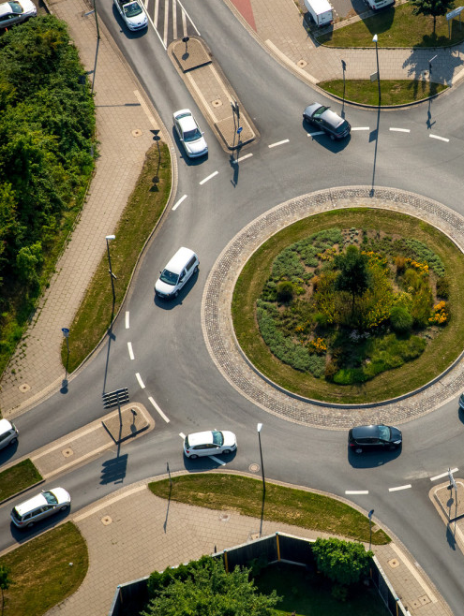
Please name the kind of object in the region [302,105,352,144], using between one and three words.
car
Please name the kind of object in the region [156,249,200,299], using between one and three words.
van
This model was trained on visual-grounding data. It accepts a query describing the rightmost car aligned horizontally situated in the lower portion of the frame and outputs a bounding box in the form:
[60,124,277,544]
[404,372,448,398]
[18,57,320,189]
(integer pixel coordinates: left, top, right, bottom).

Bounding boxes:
[348,426,402,452]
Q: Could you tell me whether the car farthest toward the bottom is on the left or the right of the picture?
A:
left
